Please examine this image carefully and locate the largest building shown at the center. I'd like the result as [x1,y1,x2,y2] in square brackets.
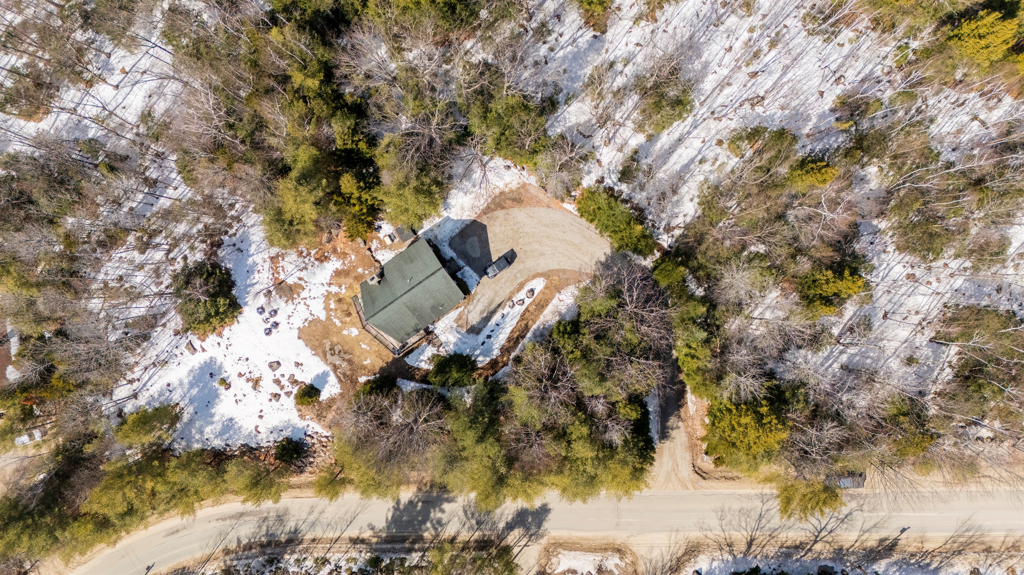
[361,239,466,343]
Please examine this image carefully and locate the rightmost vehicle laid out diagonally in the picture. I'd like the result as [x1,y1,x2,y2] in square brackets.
[485,253,512,276]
